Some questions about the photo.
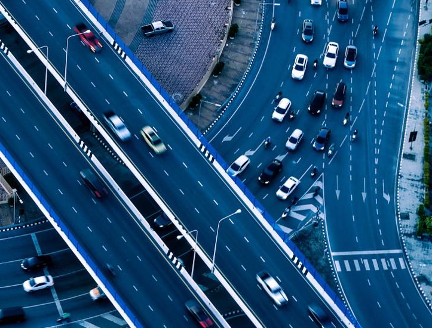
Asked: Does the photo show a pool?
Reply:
No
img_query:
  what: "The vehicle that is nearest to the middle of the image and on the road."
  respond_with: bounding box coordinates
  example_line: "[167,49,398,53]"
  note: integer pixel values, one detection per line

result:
[232,155,250,174]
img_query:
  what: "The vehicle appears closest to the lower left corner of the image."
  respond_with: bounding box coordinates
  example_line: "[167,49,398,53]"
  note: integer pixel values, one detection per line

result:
[0,305,25,323]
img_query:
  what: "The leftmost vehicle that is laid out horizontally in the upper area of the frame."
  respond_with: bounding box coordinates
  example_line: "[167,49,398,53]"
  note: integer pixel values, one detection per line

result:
[140,20,175,37]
